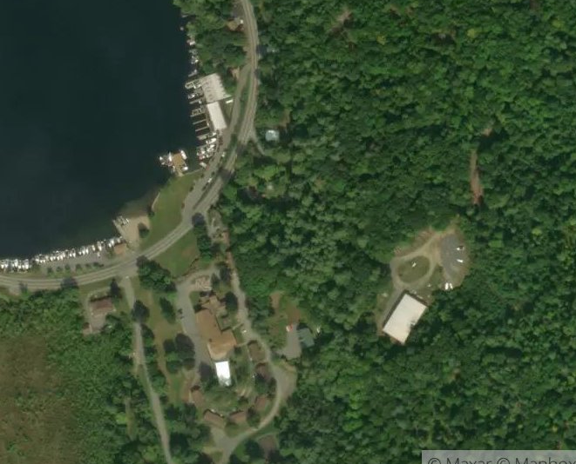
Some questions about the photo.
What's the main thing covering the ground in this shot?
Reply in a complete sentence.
For the most part, this view shows trees.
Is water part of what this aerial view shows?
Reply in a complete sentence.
Yes, there's water in this view.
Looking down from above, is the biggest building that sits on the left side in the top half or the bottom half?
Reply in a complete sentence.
Seen from above, the biggest building that sits on the left side lies in the bottom half of the view.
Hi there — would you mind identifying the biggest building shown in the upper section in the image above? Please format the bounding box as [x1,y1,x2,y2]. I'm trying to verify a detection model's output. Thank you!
[200,74,231,103]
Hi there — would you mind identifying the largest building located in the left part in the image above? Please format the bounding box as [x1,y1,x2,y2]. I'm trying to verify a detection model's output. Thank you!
[195,297,239,358]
